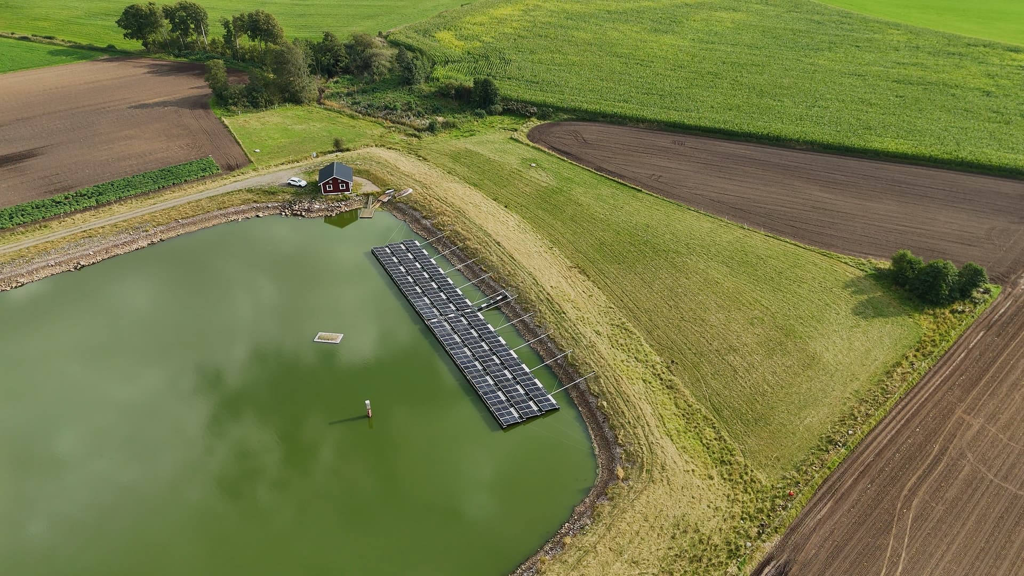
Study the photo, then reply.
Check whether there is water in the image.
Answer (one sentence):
Yes, some water is visible.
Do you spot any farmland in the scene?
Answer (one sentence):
Yes, there's farmland in this view.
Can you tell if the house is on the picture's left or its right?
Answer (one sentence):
The house appears in the left half of the scene.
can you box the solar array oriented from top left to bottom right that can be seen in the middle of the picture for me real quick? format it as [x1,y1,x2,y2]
[372,232,596,430]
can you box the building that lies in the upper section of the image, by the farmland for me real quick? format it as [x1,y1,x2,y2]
[320,161,352,194]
